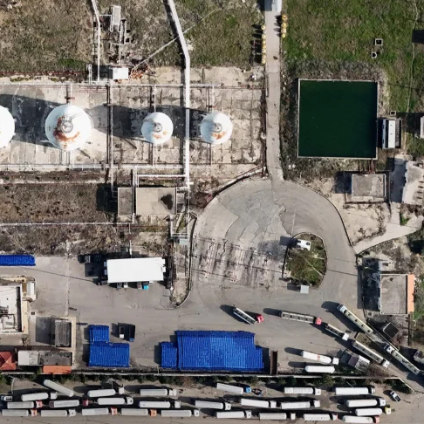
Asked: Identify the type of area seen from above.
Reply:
industrial area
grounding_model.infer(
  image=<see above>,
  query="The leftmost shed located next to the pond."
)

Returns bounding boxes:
[348,173,386,196]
